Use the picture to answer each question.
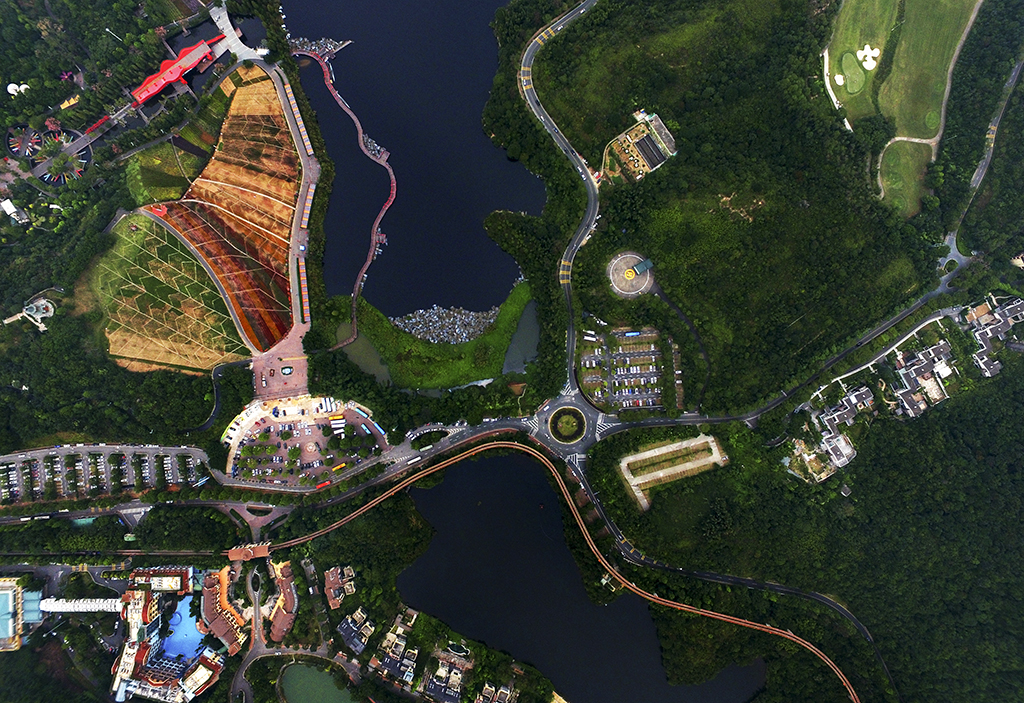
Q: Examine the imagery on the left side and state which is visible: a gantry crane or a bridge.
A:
bridge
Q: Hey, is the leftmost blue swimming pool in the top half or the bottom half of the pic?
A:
bottom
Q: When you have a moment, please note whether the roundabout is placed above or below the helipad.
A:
below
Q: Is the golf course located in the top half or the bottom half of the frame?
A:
top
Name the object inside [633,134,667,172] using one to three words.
house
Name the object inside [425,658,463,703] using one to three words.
house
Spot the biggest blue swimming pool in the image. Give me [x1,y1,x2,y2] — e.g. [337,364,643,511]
[161,594,208,661]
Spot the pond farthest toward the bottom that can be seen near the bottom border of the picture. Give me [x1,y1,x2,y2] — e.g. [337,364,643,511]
[279,663,350,703]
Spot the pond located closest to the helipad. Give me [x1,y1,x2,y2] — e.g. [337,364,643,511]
[504,300,539,375]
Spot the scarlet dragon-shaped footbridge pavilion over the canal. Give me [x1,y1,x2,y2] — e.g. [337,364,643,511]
[132,34,227,110]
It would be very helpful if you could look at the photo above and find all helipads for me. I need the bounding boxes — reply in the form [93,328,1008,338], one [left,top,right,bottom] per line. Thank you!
[606,251,653,298]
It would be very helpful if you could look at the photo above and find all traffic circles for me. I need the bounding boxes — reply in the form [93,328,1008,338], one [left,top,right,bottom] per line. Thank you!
[505,374,635,470]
